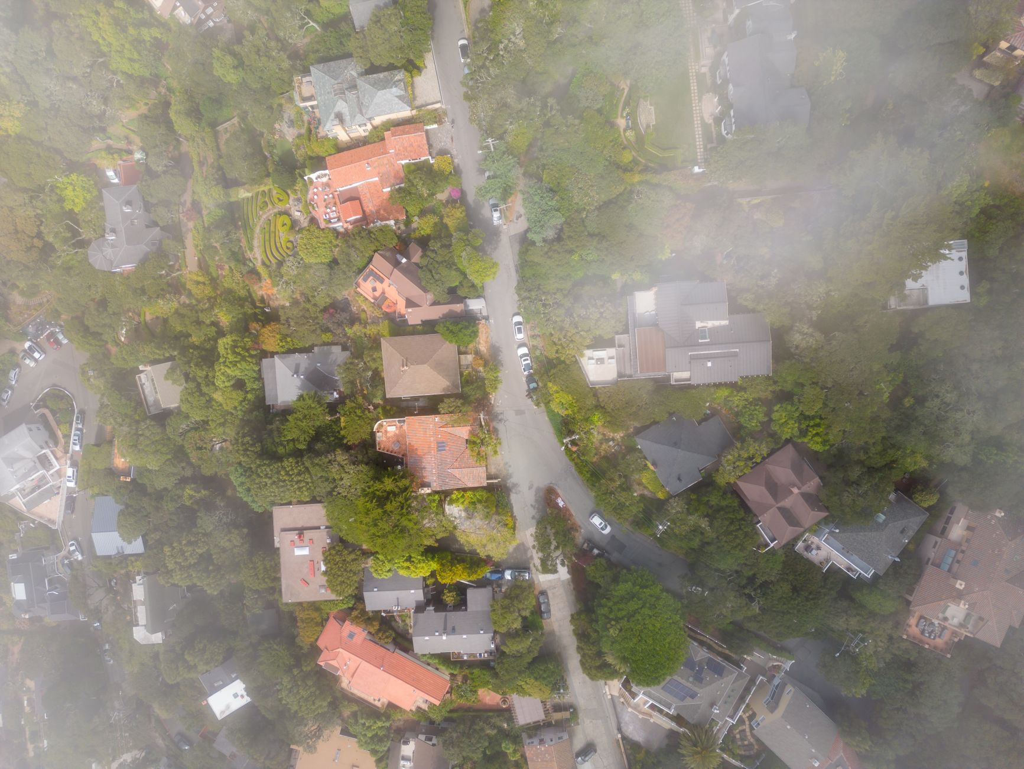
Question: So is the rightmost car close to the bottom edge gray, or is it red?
gray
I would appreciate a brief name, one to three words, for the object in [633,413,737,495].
house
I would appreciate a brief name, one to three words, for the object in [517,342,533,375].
car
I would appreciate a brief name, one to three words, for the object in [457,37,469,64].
vehicle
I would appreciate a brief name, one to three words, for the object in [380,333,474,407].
house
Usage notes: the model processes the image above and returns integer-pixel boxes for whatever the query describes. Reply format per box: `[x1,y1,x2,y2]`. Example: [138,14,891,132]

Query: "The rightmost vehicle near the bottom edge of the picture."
[573,744,600,768]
